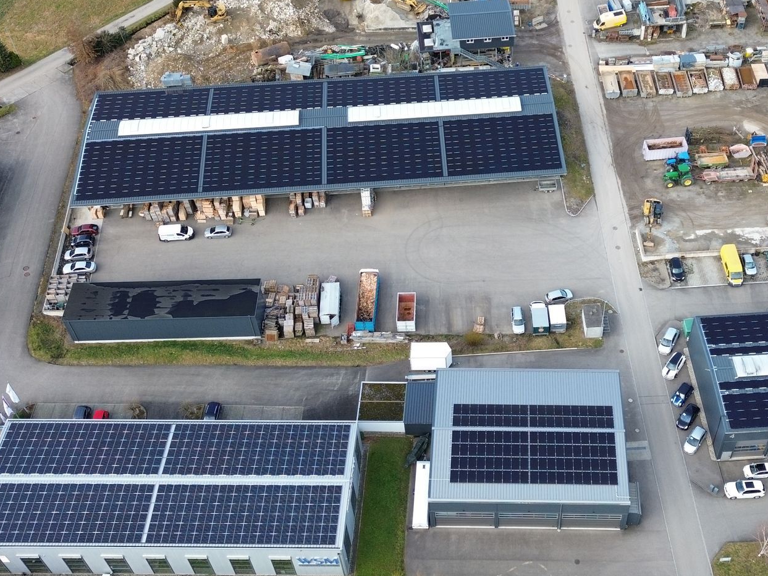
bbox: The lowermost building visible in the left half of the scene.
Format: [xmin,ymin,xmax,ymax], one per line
[0,420,361,571]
